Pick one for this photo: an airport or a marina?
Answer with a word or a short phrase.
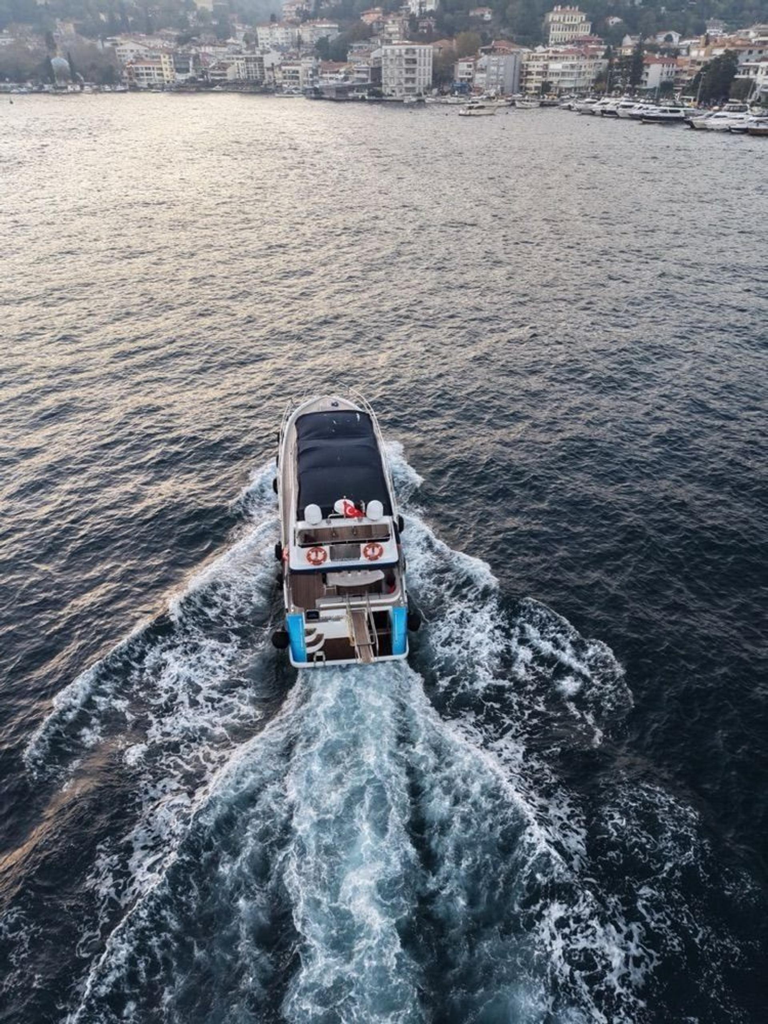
marina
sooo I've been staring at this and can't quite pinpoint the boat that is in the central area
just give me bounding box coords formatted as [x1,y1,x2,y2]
[276,384,411,671]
